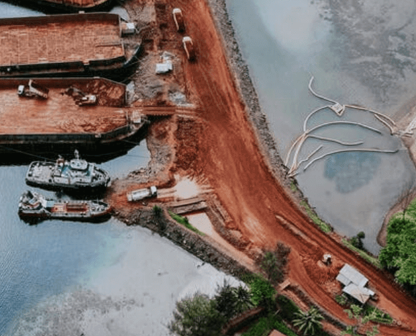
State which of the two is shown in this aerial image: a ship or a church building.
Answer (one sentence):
This aerial view contains a ship.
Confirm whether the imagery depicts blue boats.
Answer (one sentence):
No, I can see no blue boat in this picture.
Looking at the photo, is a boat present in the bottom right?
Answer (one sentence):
No, no boat is visible in the bottom right.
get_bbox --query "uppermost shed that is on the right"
[336,264,368,288]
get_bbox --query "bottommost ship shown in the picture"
[18,195,112,225]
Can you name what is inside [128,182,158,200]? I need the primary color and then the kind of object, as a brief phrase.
white vehicle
